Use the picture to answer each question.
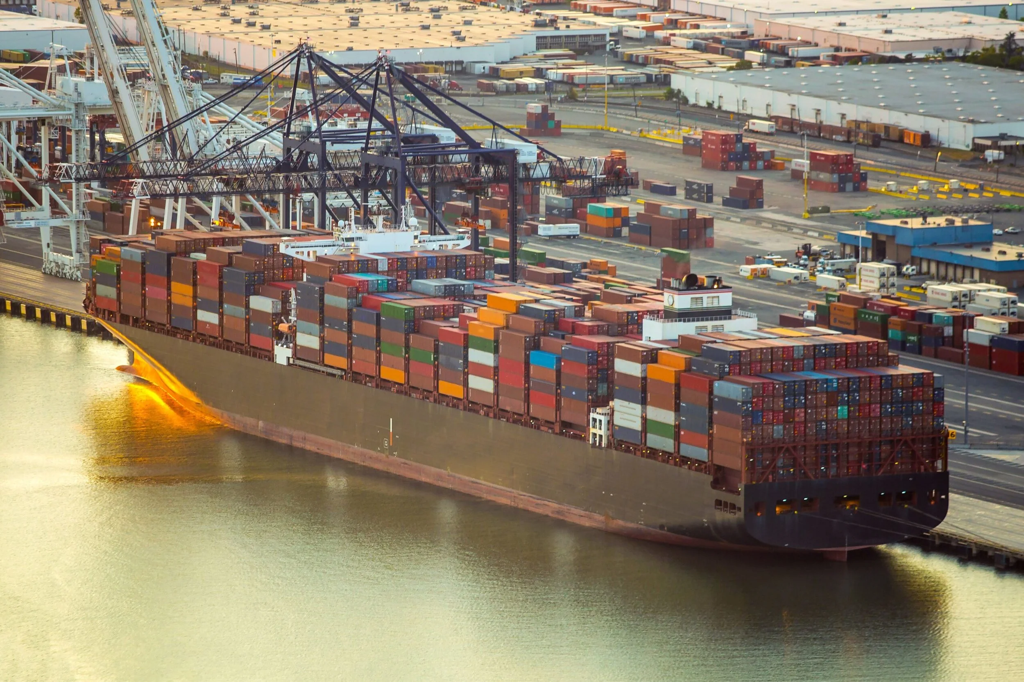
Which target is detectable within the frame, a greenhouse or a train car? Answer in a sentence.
This aerial view contains a train car.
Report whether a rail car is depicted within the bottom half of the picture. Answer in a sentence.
No, I can find no rail car within the bottom half of the picture.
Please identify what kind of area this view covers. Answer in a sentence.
The picture captures a port.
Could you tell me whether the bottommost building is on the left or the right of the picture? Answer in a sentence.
The bottommost building appears in the right half of the scene.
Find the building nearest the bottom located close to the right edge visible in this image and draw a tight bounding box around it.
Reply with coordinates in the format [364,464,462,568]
[837,216,1024,291]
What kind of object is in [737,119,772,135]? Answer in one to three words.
vehicle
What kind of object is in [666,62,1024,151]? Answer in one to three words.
building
